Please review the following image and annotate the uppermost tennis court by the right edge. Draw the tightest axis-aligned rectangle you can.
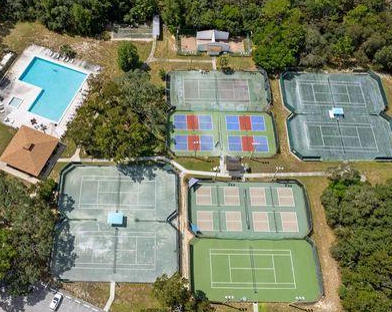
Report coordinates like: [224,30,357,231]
[279,74,384,115]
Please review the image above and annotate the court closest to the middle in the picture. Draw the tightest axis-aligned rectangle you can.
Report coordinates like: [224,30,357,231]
[174,135,214,151]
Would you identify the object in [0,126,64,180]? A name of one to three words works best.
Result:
building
